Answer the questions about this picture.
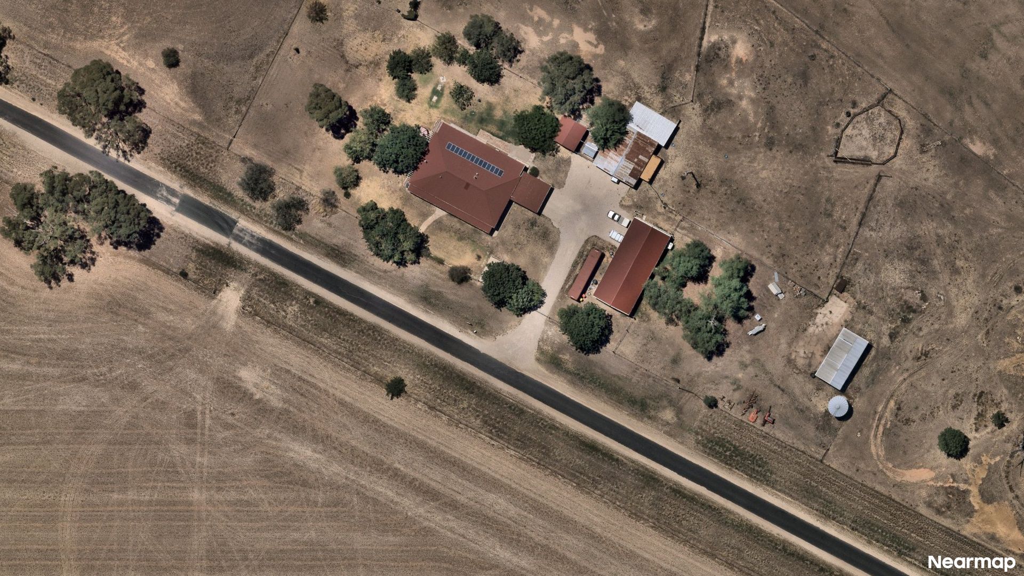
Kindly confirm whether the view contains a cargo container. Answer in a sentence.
Yes, the frame does contain a cargo container.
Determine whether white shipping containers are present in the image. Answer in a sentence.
No, there is no white shipping container in the image.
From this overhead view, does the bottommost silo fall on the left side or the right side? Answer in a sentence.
It is on the right.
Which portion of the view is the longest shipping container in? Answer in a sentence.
Look in the center portion of the view to spot the longest shipping container.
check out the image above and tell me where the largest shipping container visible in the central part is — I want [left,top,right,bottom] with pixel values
[568,248,602,300]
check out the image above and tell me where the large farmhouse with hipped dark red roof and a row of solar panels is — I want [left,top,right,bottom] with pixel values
[404,120,525,237]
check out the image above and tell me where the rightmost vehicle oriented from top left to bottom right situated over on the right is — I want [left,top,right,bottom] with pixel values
[766,280,786,302]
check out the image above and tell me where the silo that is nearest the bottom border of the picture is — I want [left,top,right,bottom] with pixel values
[827,395,850,417]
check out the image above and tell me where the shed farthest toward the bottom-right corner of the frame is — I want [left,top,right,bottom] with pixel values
[815,327,869,390]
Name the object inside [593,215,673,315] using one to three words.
shed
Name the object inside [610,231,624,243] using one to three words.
vehicle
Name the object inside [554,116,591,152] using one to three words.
shed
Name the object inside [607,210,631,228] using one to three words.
vehicle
